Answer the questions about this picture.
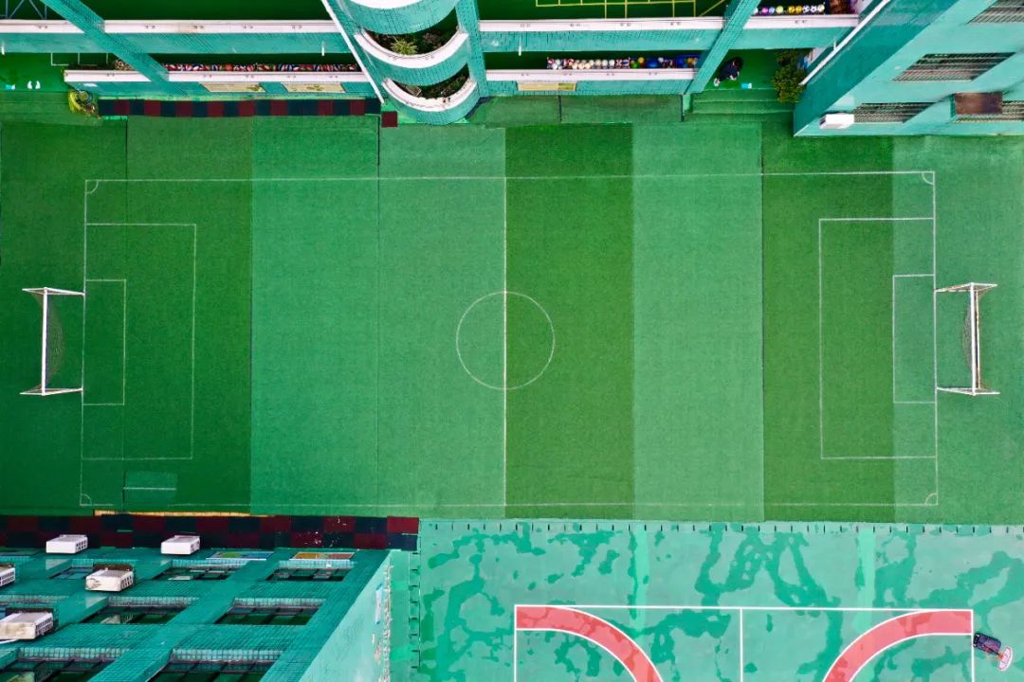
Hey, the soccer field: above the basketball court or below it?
above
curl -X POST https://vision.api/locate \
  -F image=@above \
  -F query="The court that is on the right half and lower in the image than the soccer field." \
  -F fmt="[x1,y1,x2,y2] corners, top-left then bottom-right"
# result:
[420,519,1024,682]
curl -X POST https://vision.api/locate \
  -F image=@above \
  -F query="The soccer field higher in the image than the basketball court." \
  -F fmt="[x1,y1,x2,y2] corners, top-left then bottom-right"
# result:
[0,117,1024,522]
